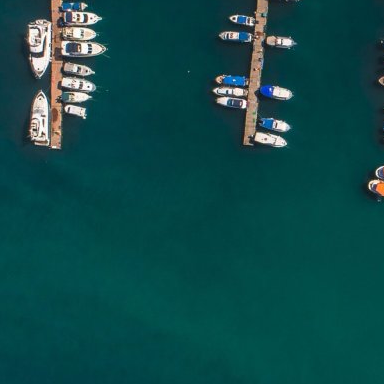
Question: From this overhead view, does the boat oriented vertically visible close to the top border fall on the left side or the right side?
left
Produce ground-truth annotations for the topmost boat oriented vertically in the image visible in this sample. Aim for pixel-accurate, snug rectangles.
[28,17,53,79]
